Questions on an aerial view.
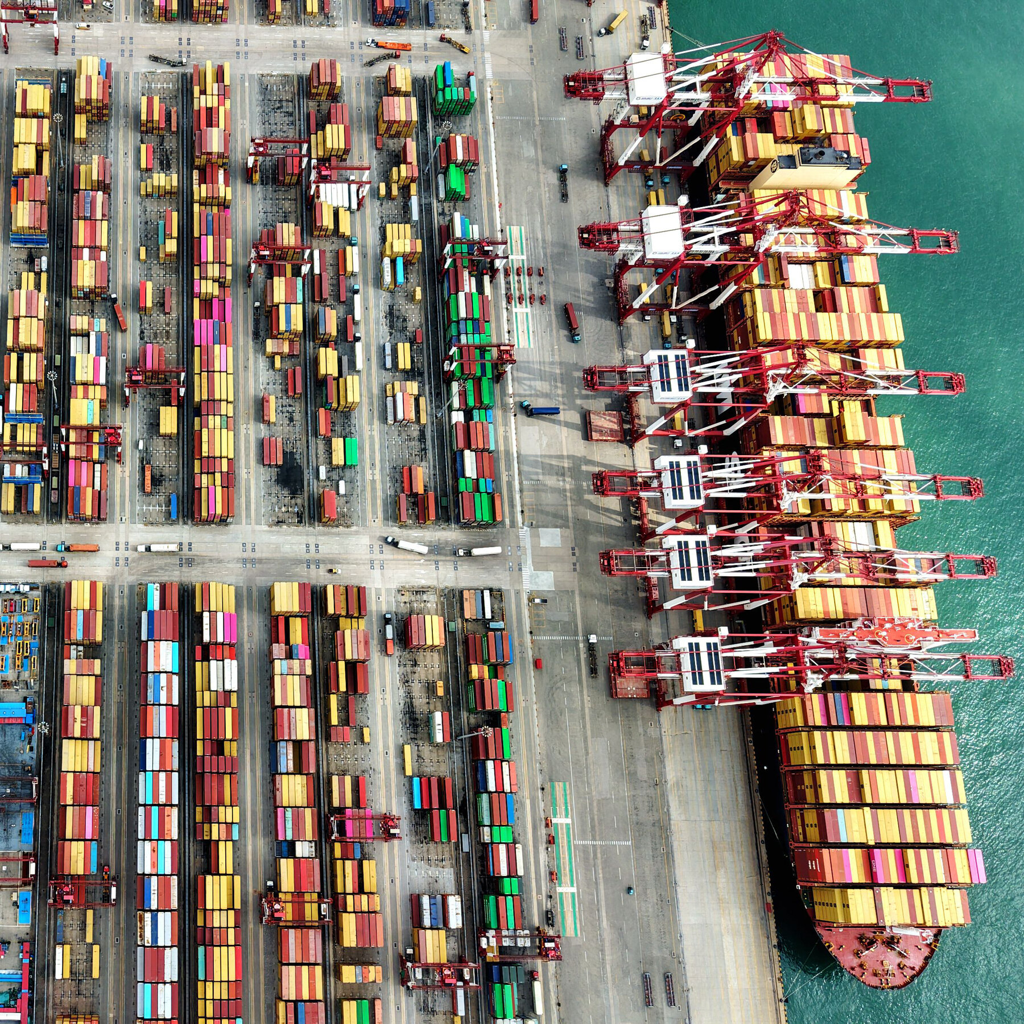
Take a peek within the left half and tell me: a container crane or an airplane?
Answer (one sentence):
It is a container crane that can be seen within the left half.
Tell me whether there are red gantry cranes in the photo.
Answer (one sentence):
Yes, the picture does show a red gantry crane.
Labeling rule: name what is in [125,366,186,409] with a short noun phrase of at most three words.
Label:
container crane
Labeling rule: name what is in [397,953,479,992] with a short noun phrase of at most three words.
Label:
container crane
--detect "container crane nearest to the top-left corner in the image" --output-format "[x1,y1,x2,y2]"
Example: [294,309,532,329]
[1,5,60,59]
